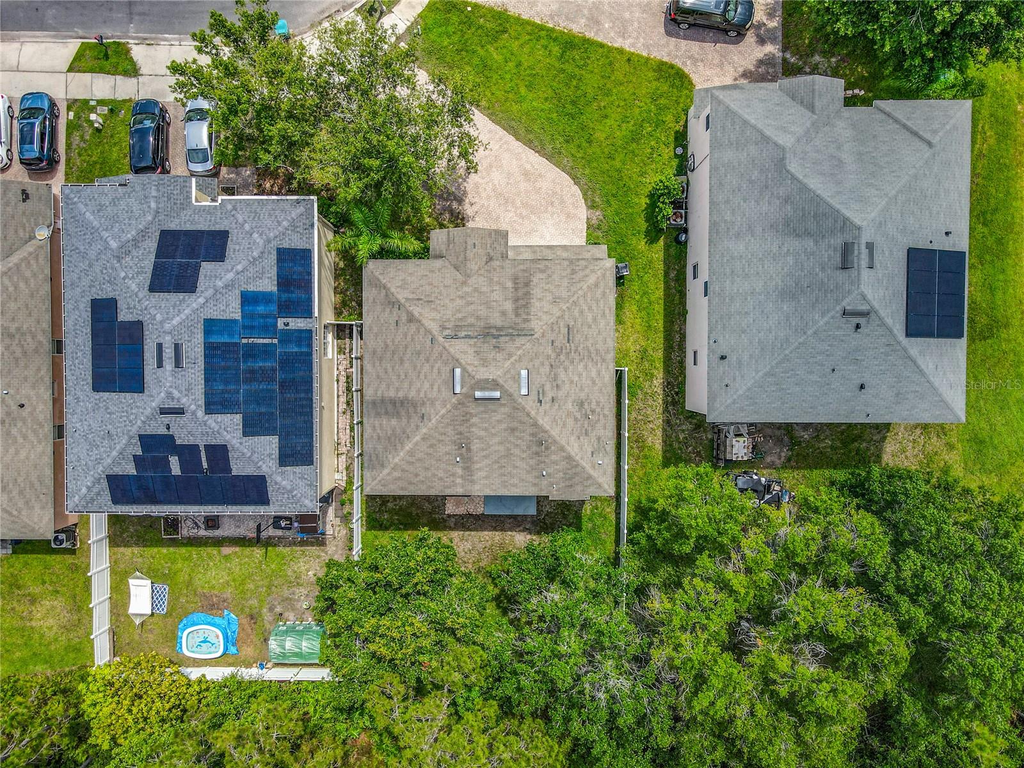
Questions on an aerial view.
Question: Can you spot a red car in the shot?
No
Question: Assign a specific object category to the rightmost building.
house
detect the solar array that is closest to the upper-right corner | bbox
[905,248,965,338]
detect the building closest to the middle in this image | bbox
[363,227,615,500]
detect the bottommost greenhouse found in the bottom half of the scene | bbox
[262,628,324,666]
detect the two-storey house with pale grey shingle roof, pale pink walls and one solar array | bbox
[687,73,969,423]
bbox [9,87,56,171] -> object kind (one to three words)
car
